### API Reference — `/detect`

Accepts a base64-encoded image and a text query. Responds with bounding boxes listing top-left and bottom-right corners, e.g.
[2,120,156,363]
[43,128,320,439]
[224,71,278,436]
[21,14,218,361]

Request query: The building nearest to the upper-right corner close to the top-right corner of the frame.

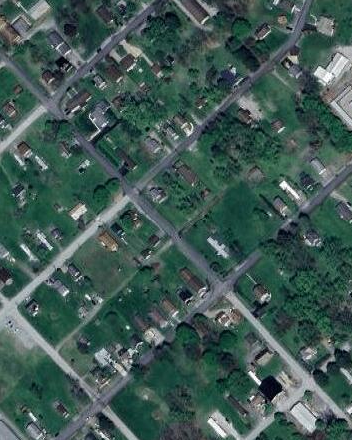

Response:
[315,17,337,35]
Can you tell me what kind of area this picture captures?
residential area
